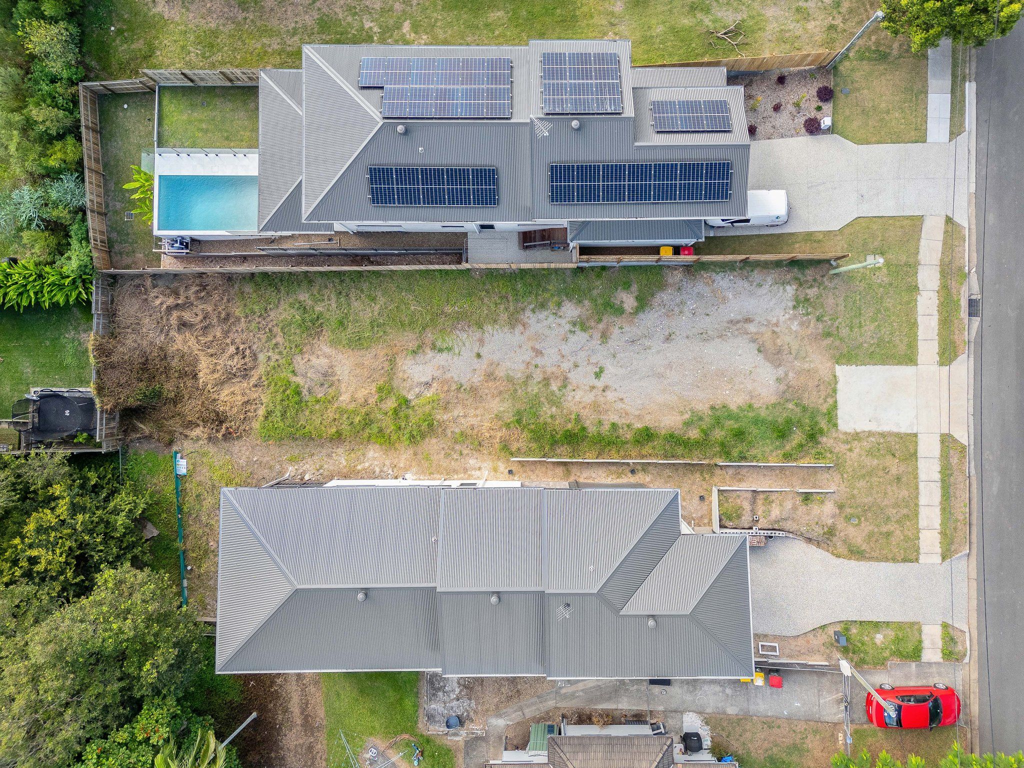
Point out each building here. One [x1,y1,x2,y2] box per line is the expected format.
[255,37,752,252]
[480,724,740,768]
[213,466,757,681]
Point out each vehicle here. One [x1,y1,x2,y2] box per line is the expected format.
[864,683,958,734]
[735,184,791,228]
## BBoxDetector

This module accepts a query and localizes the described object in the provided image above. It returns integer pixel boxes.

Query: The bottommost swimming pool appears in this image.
[154,154,259,237]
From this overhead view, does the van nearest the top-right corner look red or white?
white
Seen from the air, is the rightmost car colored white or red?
red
